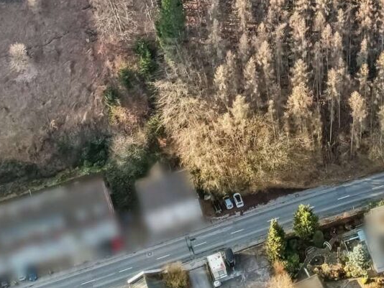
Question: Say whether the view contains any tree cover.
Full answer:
Yes, there is tree cover in the image.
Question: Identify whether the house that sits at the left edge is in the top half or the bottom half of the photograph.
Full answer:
The bottom half of the photo is where the house that sits at the left edge is.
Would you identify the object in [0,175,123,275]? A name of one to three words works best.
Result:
house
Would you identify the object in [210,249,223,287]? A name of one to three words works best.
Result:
vehicle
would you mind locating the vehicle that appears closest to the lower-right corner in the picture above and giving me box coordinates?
[223,248,236,270]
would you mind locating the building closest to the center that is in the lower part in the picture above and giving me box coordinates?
[139,164,203,232]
